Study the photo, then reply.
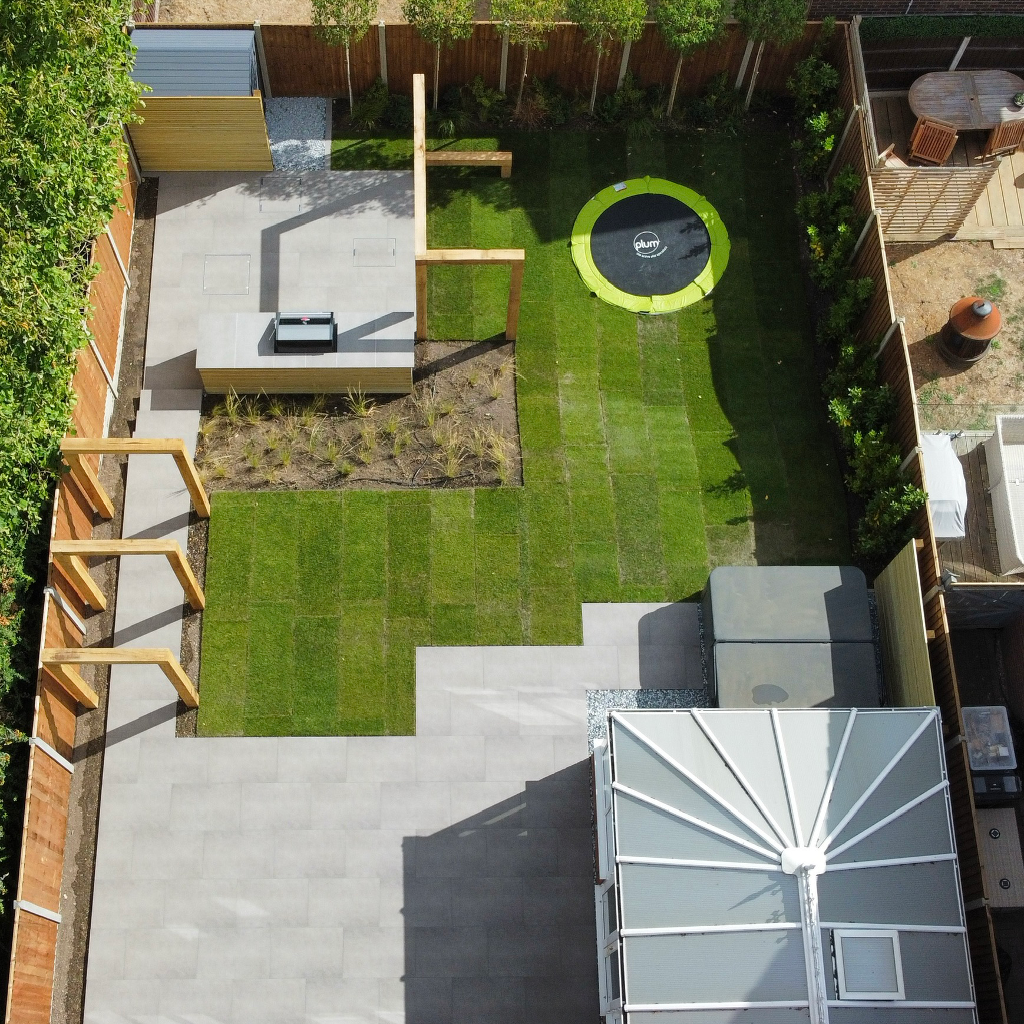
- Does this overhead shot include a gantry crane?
No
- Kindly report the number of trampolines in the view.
1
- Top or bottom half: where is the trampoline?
top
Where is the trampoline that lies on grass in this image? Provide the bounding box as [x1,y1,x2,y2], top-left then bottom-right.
[570,173,732,315]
